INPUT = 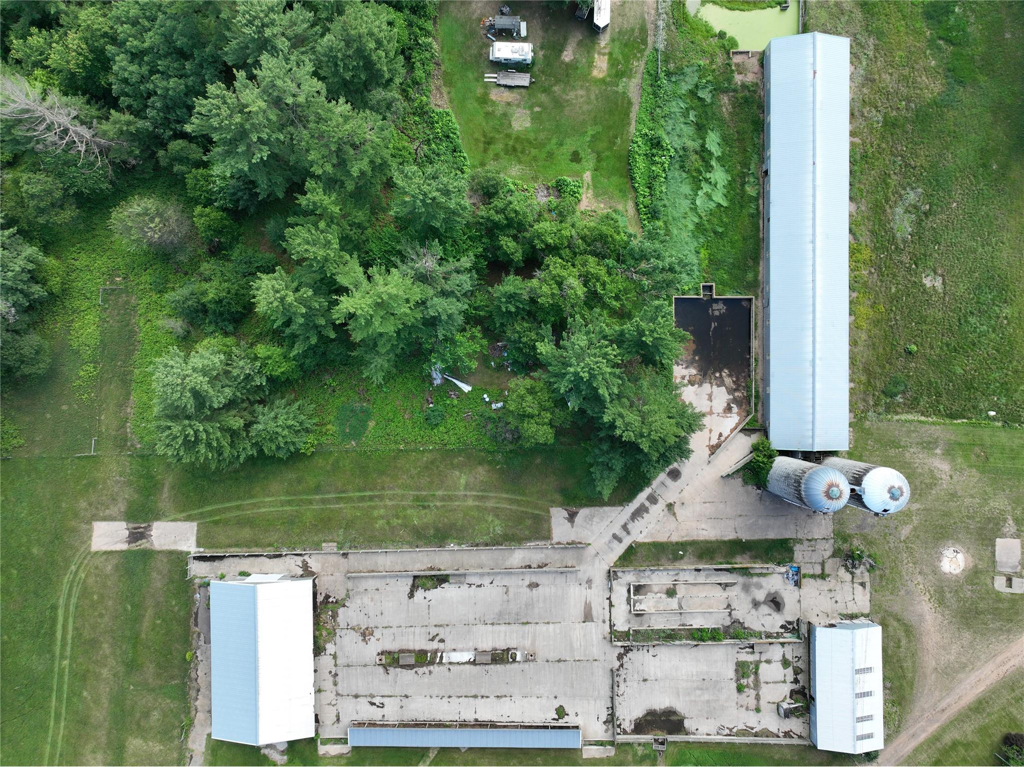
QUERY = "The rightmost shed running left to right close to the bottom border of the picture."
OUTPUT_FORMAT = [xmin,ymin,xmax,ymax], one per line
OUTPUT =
[347,721,583,749]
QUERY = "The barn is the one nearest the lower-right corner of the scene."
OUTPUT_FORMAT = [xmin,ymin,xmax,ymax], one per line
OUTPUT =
[809,620,883,755]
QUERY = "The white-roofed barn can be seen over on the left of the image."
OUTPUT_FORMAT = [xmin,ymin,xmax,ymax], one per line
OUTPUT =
[210,571,320,747]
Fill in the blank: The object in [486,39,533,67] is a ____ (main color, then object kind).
white trailer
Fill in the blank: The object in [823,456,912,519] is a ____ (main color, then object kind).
white silo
